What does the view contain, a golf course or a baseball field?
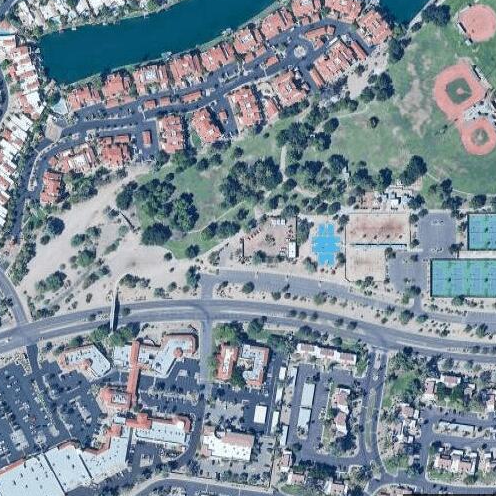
baseball field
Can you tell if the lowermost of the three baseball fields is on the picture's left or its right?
right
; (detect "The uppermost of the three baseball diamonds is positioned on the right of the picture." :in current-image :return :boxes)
[458,4,496,45]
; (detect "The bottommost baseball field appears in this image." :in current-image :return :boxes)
[461,117,496,154]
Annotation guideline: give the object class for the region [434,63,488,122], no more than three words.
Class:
baseball field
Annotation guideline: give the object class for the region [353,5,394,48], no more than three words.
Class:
building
